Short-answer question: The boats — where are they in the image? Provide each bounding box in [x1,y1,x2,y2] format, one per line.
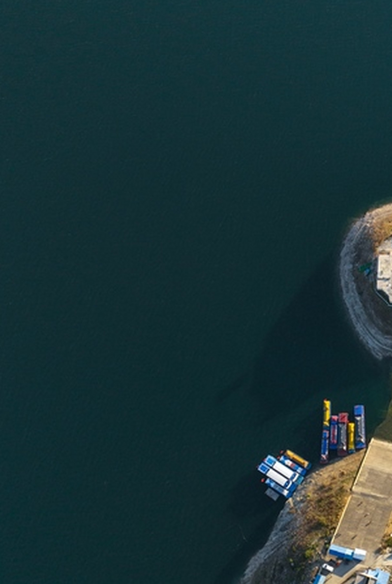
[258,463,298,491]
[321,430,329,463]
[330,414,338,449]
[354,405,366,447]
[322,397,330,430]
[263,479,290,499]
[338,412,348,456]
[264,454,306,484]
[282,448,311,468]
[278,456,307,476]
[348,422,355,453]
